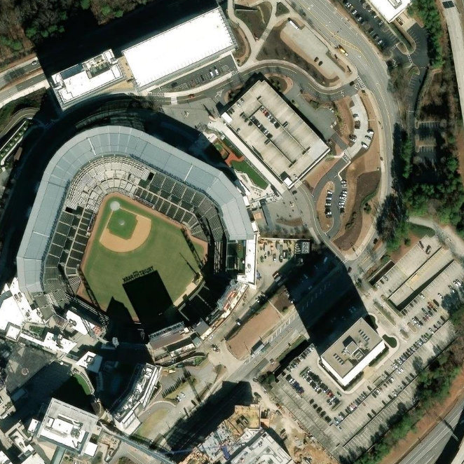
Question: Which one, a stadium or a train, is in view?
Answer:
stadium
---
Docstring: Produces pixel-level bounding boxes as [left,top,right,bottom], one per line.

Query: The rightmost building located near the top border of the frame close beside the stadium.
[124,8,239,96]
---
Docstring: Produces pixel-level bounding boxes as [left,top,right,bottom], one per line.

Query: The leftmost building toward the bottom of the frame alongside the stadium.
[0,278,45,343]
